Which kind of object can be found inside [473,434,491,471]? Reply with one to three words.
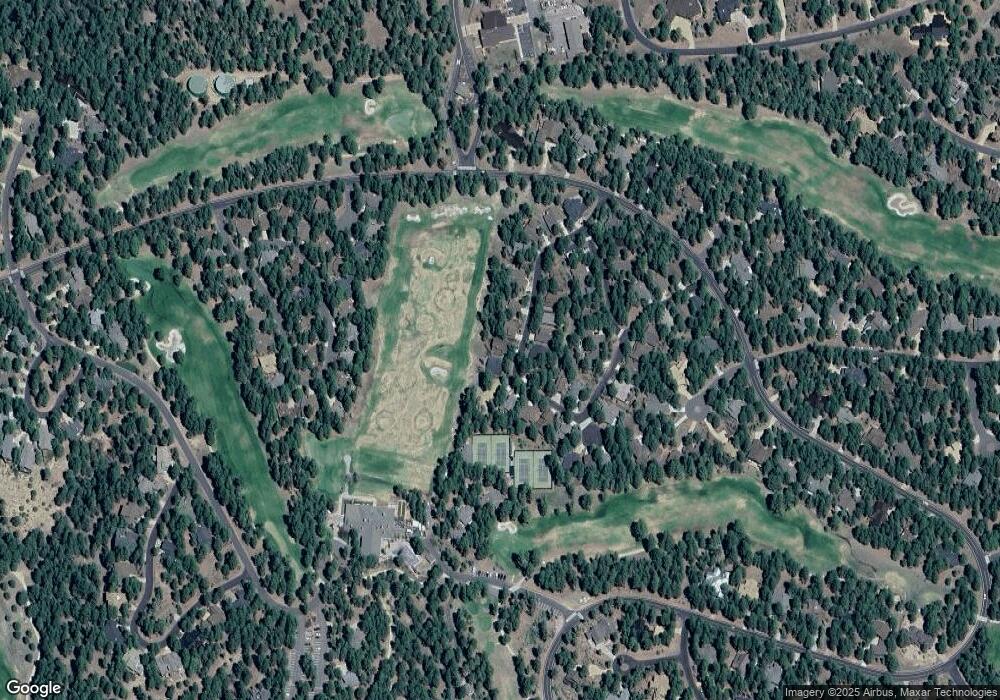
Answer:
tennis court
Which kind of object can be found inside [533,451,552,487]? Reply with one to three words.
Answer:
tennis court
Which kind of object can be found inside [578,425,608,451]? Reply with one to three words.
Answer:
house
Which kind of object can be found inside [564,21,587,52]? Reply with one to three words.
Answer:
building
